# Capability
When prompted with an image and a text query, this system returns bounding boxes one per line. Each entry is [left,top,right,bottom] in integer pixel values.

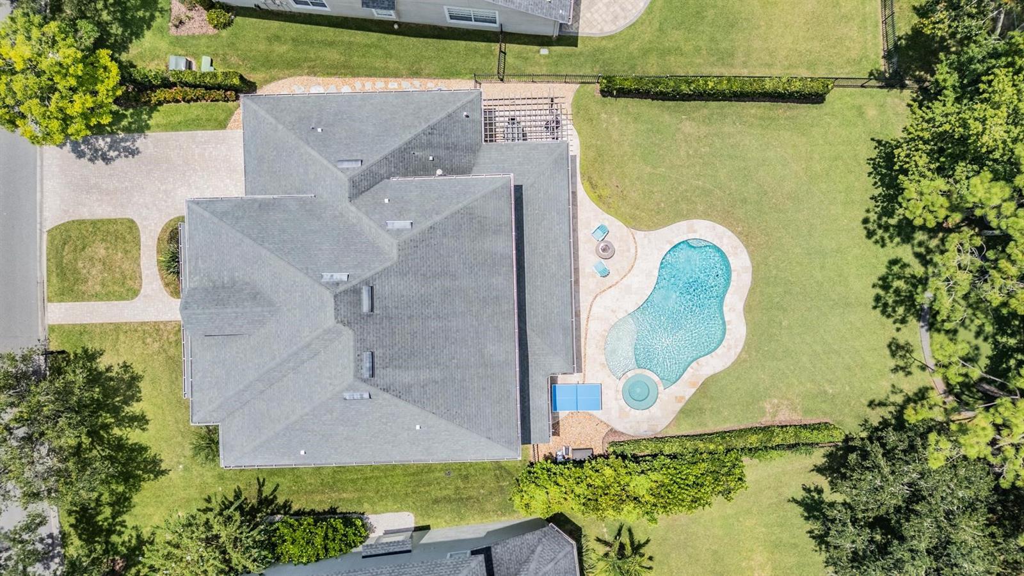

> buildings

[178,87,578,470]
[221,519,581,576]
[214,0,573,37]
